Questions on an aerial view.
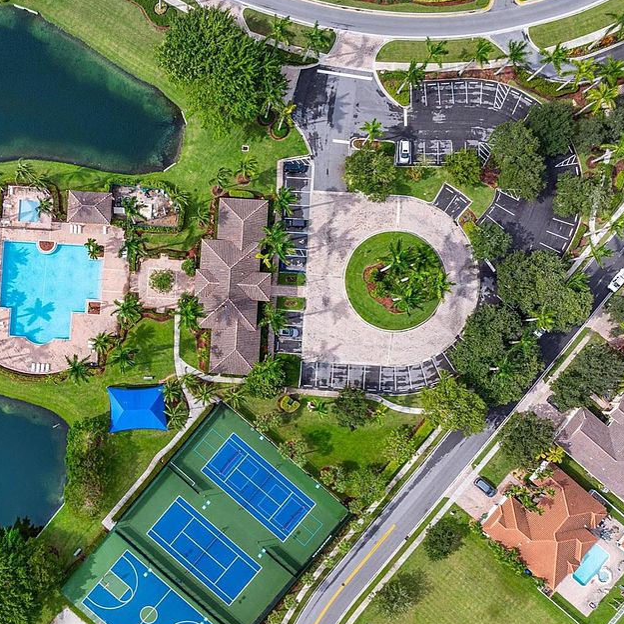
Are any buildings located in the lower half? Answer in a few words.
Yes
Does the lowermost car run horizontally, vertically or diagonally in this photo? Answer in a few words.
diagonally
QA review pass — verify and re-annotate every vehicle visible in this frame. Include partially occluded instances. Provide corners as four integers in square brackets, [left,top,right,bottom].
[400,141,411,163]
[530,324,552,341]
[278,328,300,337]
[285,161,308,172]
[608,272,624,294]
[285,218,308,229]
[476,477,498,498]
